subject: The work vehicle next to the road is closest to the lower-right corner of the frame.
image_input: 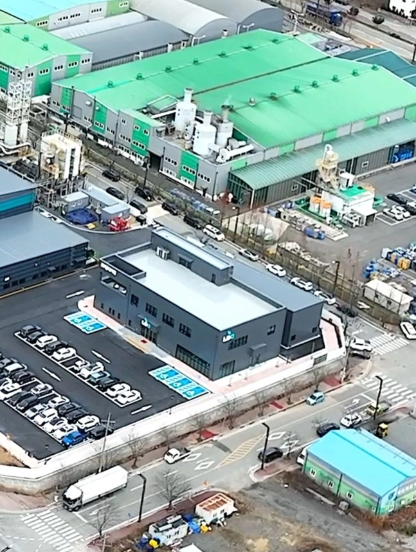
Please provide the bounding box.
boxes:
[377,422,396,439]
